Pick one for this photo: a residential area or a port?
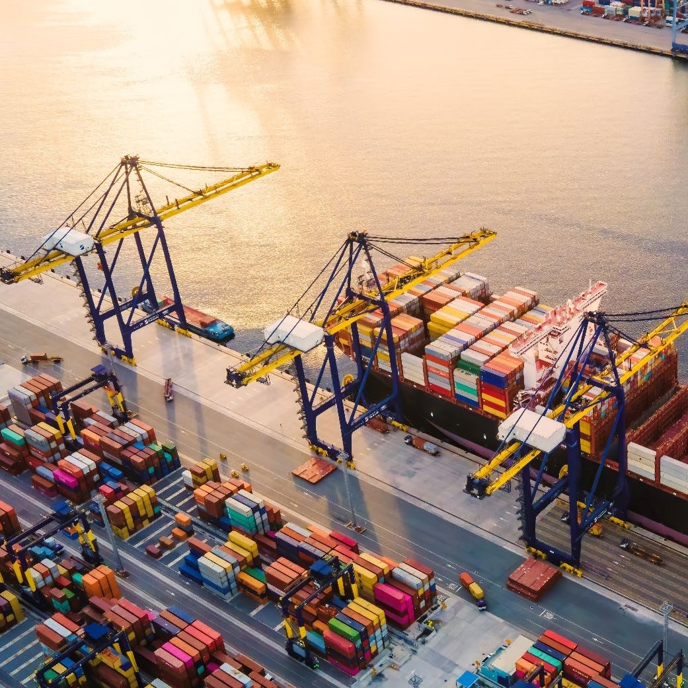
port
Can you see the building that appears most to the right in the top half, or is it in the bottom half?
bottom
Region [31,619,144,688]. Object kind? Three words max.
container crane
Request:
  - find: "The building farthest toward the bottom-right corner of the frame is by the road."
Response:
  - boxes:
[487,636,535,686]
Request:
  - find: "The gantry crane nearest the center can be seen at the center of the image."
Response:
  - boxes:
[221,221,500,467]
